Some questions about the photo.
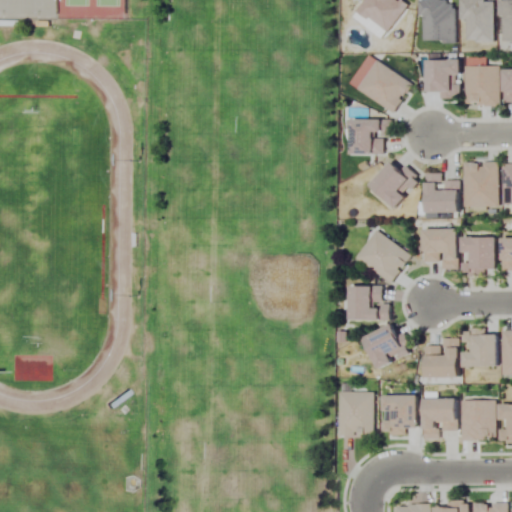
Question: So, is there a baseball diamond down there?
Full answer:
Yes, looking at the shot, I can spot a baseball diamond.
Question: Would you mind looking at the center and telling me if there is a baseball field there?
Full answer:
Yes, you'll find a baseball field at the center.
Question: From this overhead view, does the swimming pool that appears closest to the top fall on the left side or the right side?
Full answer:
It is on the right.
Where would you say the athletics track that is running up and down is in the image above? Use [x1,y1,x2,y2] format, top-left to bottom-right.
[0,40,133,414]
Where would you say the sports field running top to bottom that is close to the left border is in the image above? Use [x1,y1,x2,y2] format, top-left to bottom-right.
[0,62,110,391]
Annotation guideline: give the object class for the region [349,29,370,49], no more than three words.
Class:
swimming pool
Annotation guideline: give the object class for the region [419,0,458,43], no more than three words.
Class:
house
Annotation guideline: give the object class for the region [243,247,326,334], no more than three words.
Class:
baseball field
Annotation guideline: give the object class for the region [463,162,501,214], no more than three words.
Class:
house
